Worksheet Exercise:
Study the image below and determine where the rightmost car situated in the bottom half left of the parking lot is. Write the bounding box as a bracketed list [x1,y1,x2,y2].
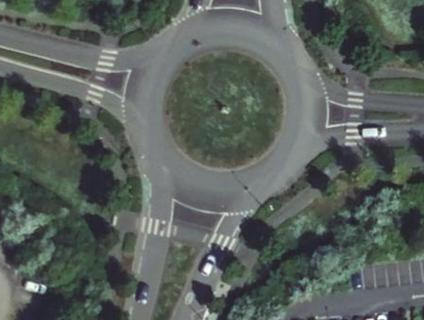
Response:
[200,254,216,276]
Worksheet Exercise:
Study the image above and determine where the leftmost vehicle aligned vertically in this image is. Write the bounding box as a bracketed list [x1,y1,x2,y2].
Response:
[137,282,149,304]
